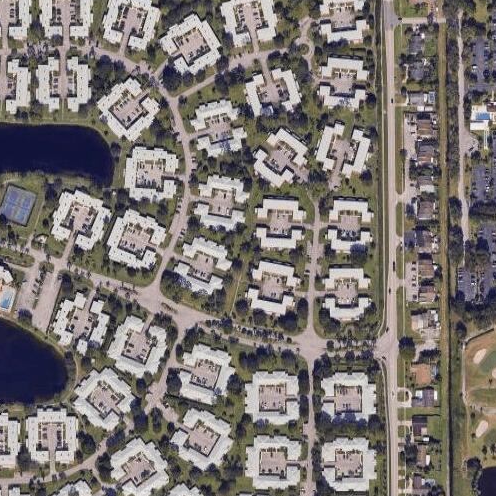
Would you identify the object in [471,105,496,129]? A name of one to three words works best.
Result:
swimming pool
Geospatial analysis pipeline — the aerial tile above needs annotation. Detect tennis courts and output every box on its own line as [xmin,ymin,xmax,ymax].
[2,188,21,217]
[14,192,33,222]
